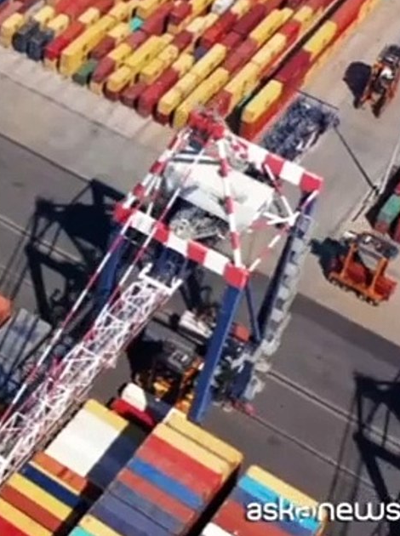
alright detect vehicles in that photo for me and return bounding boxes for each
[355,34,400,111]
[128,316,203,407]
[319,217,397,304]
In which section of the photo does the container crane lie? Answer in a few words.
center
